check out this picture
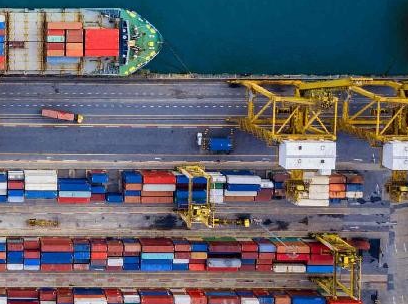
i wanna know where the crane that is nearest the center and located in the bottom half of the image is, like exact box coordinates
[172,162,214,228]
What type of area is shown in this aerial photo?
port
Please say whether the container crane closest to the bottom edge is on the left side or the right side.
right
